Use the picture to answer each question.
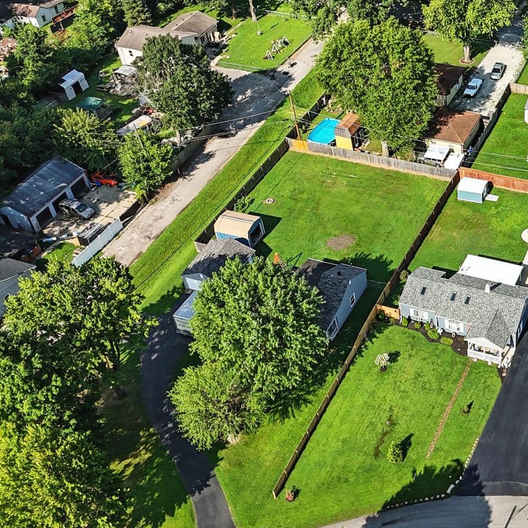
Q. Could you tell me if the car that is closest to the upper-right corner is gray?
Yes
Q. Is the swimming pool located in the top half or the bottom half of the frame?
top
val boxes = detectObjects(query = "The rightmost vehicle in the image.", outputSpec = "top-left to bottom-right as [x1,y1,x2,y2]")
[486,60,508,80]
